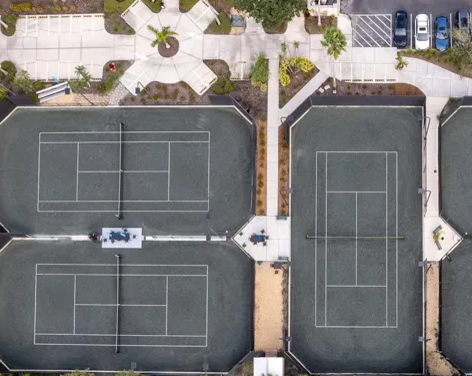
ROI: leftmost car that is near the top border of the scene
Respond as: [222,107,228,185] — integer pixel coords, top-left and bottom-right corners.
[393,14,409,48]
